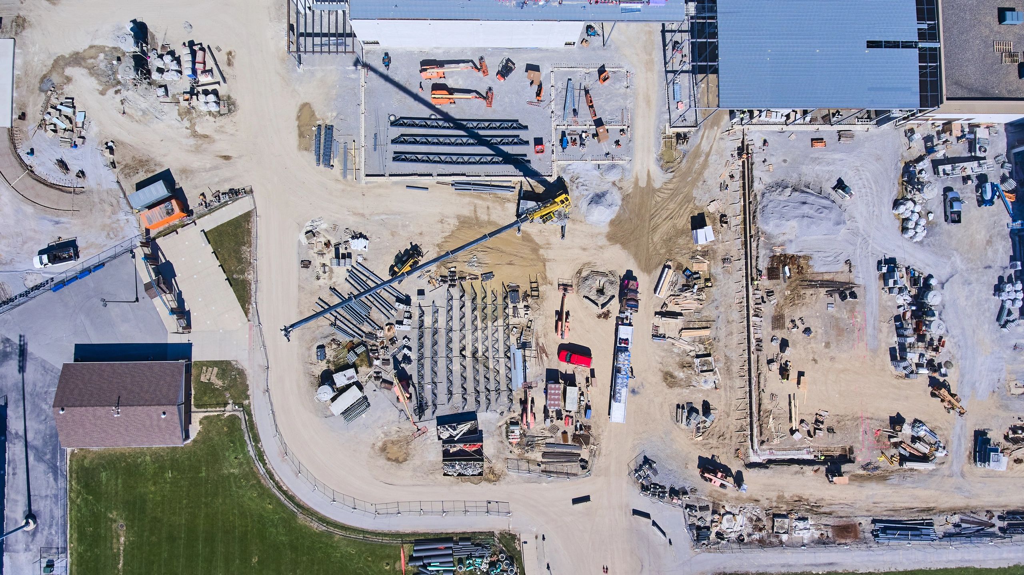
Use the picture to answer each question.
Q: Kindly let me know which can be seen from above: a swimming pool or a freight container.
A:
freight container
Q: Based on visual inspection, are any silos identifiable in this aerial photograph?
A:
Yes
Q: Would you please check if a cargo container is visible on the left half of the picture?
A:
Yes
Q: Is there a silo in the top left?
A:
Yes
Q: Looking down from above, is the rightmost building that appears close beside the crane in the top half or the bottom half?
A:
top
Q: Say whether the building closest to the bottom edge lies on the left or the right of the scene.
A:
left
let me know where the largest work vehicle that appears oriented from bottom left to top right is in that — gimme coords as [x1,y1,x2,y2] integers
[390,245,427,276]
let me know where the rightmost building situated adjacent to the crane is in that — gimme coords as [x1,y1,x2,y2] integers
[668,0,939,128]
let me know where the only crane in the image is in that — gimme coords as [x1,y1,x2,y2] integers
[273,186,579,346]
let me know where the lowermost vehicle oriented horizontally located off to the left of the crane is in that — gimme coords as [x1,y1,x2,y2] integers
[36,247,80,265]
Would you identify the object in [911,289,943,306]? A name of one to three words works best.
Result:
silo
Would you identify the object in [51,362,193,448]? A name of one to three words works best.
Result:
building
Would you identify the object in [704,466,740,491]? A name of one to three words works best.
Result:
work vehicle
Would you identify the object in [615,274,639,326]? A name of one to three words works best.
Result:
truck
